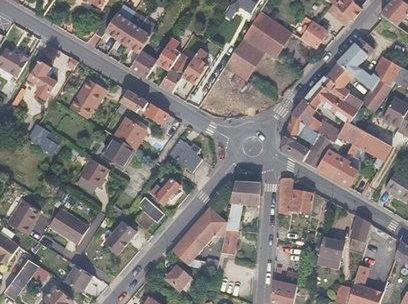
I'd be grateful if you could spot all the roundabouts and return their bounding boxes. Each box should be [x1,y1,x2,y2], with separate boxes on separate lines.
[205,110,292,185]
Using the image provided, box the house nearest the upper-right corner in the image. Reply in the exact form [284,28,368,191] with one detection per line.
[382,0,408,26]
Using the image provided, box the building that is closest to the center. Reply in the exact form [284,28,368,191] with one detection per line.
[170,140,204,172]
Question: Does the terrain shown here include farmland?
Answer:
No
